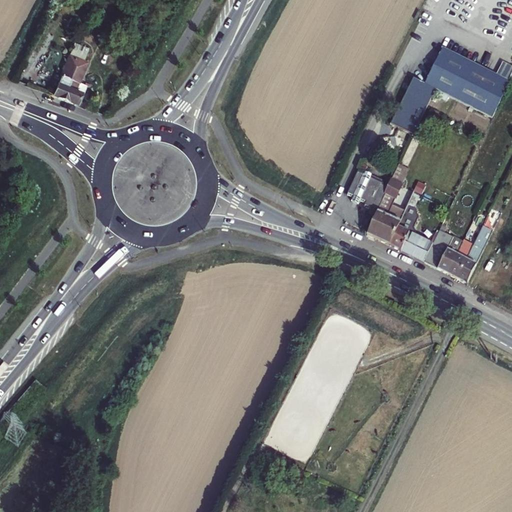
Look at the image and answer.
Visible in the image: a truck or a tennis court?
truck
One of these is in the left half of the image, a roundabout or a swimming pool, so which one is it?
roundabout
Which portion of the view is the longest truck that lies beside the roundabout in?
left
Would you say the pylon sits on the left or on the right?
left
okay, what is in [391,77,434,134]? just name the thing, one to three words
building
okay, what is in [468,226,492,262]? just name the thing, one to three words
shed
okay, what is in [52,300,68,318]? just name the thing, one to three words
vehicle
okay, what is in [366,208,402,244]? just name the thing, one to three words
house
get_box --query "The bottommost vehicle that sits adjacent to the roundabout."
[92,246,128,279]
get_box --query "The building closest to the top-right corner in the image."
[424,46,510,118]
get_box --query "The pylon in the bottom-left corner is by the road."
[0,414,28,446]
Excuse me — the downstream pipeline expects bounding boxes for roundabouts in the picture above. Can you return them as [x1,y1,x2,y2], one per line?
[90,119,220,249]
